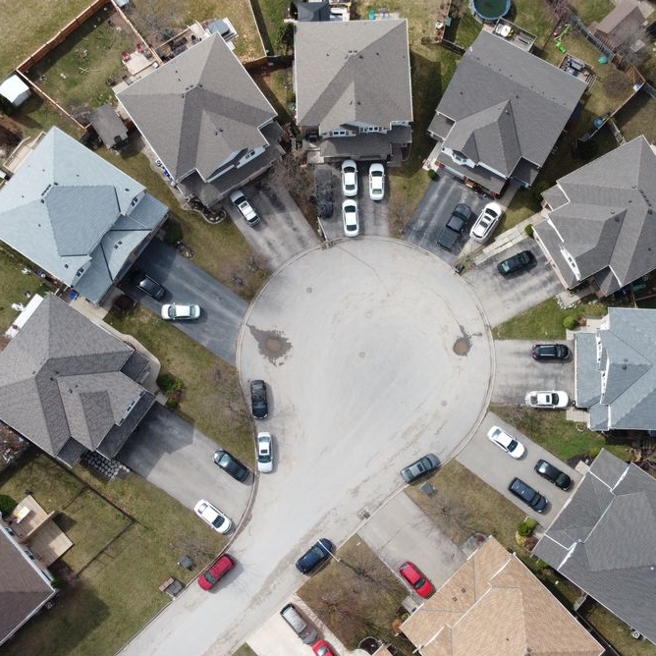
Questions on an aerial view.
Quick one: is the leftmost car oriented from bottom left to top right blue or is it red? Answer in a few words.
red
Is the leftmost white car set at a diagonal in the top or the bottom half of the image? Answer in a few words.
bottom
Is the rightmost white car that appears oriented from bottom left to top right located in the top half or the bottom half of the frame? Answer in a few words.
top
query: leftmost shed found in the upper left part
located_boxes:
[0,75,35,112]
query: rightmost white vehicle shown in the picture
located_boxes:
[526,390,567,409]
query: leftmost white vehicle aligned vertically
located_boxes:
[255,432,274,474]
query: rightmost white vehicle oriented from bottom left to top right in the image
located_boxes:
[471,204,502,242]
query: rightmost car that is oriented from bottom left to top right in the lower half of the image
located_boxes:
[399,453,440,483]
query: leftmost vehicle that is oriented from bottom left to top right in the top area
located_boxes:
[437,205,471,249]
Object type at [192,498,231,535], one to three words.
car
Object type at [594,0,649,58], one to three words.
shed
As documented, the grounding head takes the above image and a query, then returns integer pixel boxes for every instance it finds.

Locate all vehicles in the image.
[312,640,337,656]
[229,191,261,227]
[192,498,231,535]
[471,204,502,242]
[276,601,319,648]
[437,205,471,249]
[367,166,384,200]
[508,478,547,513]
[398,560,433,600]
[341,162,358,198]
[533,458,572,491]
[497,251,535,275]
[213,448,250,483]
[129,270,167,300]
[293,539,334,575]
[197,552,236,590]
[250,380,268,420]
[487,425,524,459]
[255,432,274,474]
[342,201,359,236]
[399,453,440,483]
[531,342,569,360]
[161,304,200,321]
[526,390,567,409]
